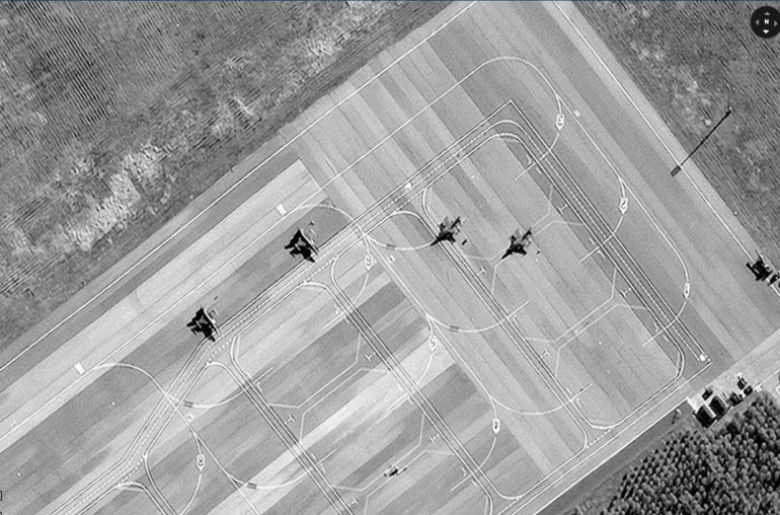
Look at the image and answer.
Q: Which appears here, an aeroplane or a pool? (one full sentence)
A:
There is an aeroplane in the scene.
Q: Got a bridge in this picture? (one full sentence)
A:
No, this view has no bridge in it.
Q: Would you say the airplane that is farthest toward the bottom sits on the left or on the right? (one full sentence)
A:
The airplane that is farthest toward the bottom is on the left side of the image.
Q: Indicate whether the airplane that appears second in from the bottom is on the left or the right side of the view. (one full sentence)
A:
You can find the airplane that appears second in from the bottom on the right side of the picture.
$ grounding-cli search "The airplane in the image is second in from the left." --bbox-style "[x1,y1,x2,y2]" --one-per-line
[292,226,319,256]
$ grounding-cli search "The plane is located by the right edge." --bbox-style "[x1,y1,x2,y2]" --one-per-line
[759,248,780,276]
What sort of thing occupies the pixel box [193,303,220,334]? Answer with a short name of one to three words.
airplane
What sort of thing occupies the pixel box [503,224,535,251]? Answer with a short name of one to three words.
airplane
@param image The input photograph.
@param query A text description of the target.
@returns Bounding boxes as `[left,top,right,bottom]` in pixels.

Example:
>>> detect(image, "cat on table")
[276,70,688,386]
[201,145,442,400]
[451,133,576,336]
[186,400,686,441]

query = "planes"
[759,248,780,276]
[292,226,319,256]
[503,224,535,251]
[193,303,220,334]
[436,213,468,239]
